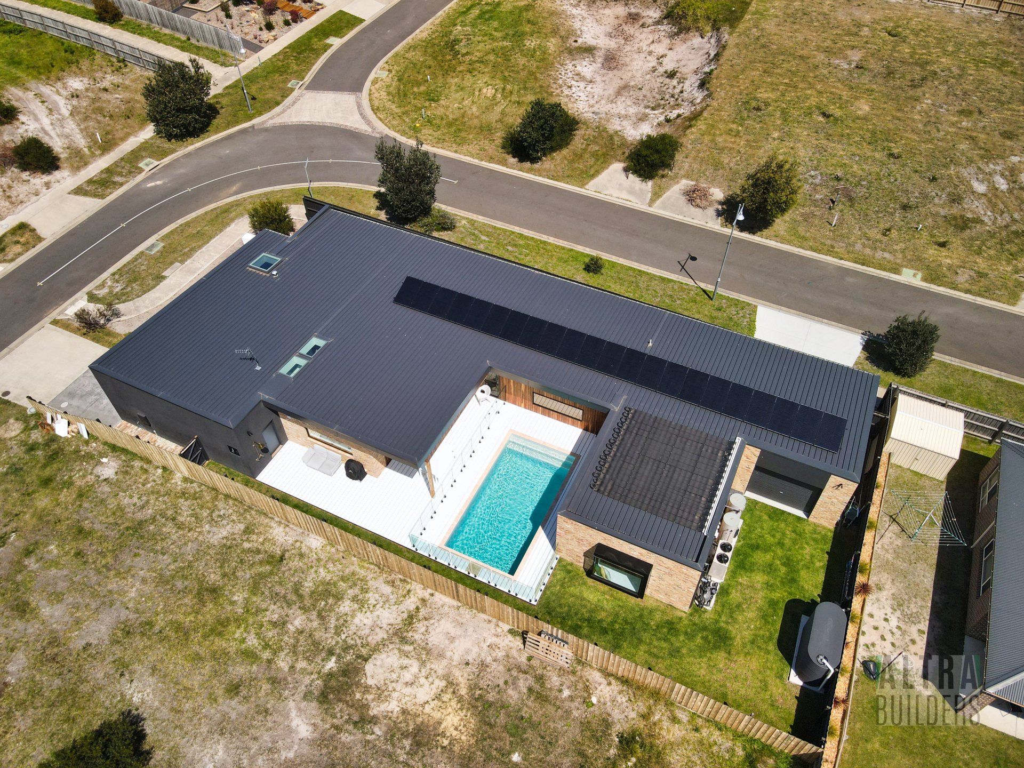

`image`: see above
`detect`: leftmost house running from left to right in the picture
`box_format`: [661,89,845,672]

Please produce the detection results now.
[89,205,881,612]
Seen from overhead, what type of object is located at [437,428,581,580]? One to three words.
swimming pool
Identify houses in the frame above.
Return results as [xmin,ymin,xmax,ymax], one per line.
[89,205,881,612]
[955,433,1024,719]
